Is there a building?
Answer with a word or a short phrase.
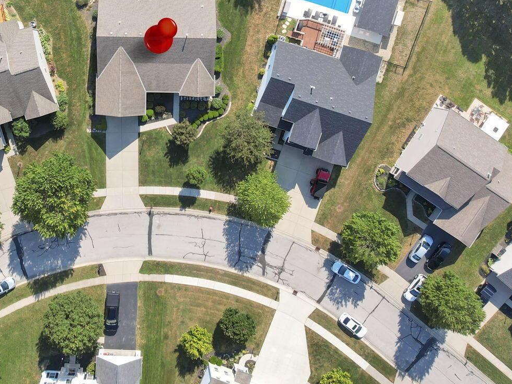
Yes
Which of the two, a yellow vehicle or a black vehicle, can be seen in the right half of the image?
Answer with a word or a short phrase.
black vehicle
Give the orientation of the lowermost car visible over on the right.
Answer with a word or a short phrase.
on a diagonal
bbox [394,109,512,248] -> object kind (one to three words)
house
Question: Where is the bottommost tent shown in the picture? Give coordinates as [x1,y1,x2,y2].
[476,110,509,142]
